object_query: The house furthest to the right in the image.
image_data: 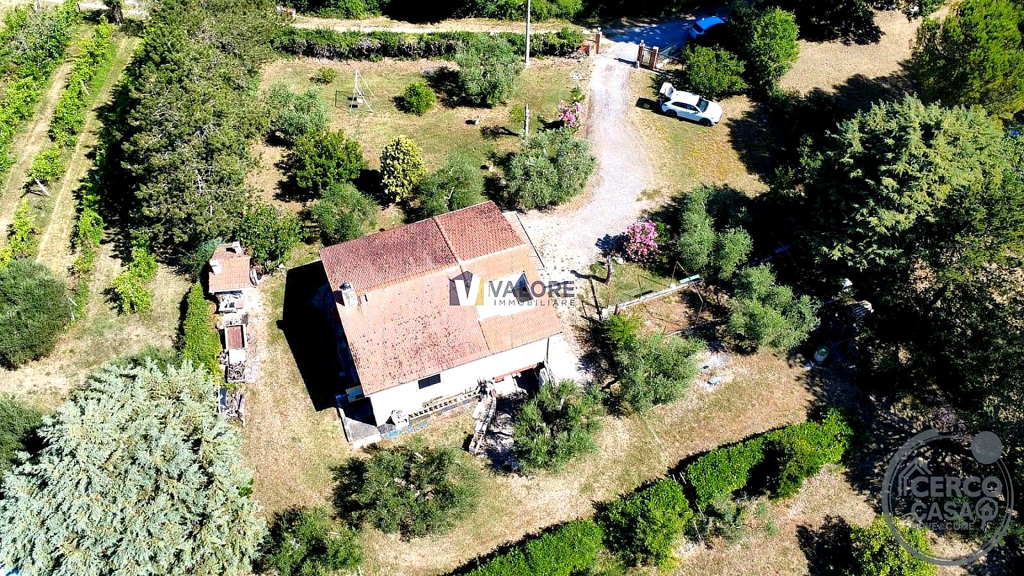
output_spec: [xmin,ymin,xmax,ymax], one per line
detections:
[321,198,561,423]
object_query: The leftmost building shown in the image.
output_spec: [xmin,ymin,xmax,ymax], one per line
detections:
[205,239,266,310]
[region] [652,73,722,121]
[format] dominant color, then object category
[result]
white car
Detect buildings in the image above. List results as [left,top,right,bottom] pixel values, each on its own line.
[205,239,266,310]
[321,198,561,423]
